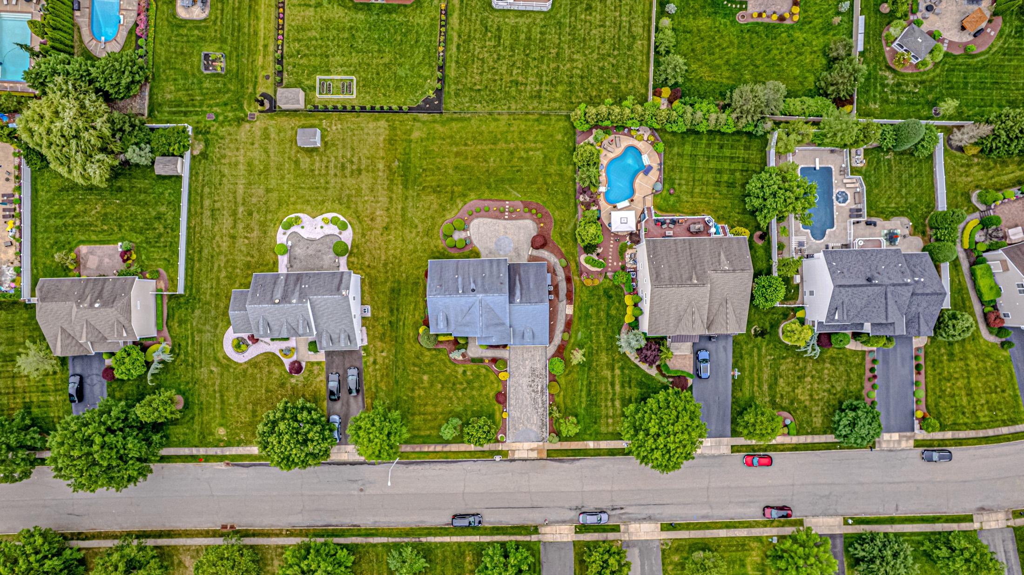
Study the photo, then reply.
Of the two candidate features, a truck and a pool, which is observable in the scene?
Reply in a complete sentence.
Visible in the photo is a pool.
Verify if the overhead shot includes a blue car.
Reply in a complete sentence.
Yes, there's a blue car here.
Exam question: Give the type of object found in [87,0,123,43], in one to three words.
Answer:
swimming pool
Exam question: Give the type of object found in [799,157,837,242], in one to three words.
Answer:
swimming pool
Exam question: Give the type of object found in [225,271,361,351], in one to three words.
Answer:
house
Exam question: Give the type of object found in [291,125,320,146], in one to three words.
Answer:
shed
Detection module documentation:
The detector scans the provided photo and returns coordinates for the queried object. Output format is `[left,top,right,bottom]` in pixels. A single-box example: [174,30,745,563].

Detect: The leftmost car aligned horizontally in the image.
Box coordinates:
[451,512,482,526]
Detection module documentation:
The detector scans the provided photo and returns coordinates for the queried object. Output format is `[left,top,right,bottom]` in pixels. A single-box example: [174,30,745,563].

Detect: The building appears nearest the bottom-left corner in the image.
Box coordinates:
[32,277,156,357]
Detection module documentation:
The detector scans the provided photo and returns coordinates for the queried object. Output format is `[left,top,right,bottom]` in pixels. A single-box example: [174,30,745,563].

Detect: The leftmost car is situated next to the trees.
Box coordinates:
[68,374,86,403]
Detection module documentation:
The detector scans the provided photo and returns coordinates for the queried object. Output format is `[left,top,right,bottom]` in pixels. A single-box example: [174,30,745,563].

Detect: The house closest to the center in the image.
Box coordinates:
[425,258,550,346]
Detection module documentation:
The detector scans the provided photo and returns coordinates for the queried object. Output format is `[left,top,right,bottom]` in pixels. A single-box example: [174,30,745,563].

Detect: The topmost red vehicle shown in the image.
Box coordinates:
[742,453,772,468]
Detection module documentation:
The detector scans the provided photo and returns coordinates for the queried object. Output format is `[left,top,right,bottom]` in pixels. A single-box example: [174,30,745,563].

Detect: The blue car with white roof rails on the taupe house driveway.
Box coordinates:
[695,349,711,380]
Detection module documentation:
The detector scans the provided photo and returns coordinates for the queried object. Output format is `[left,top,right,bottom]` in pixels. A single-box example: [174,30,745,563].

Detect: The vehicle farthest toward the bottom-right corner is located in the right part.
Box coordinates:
[919,448,953,463]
